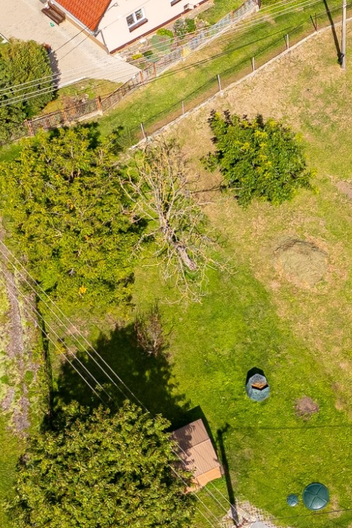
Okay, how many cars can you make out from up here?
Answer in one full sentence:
The photo contains no cars.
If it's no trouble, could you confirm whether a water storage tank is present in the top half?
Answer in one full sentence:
No, no water storage tank appears in the top half.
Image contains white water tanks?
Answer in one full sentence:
No, no white water tank is visible in the scene.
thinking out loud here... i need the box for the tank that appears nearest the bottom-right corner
[302,481,328,512]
